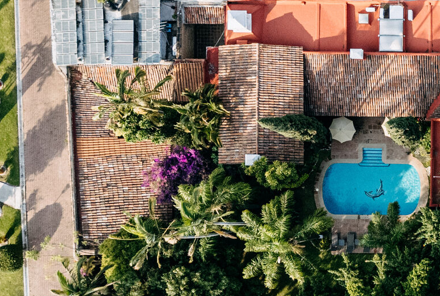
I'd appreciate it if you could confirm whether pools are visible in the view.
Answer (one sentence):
Yes, a pool is visible in the scene.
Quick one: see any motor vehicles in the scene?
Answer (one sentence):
No, no motor vehicle is visible in the view.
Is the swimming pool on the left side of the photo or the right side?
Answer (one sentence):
The swimming pool sits on the right side.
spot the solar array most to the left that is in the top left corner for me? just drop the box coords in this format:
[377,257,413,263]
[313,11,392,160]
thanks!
[54,0,75,64]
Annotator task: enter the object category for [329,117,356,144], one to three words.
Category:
umbrella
